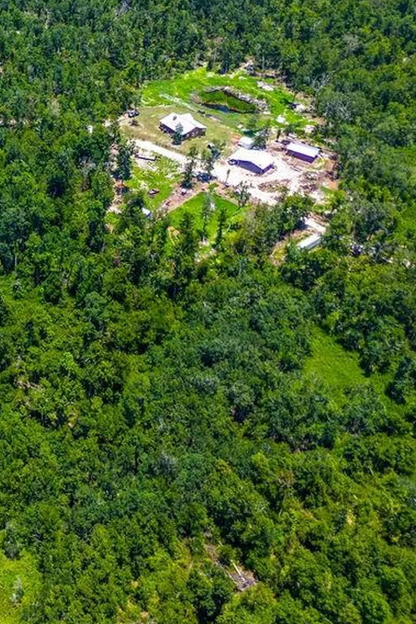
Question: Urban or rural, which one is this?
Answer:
rural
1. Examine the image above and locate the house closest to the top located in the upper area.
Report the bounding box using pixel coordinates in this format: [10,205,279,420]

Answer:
[158,112,218,140]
